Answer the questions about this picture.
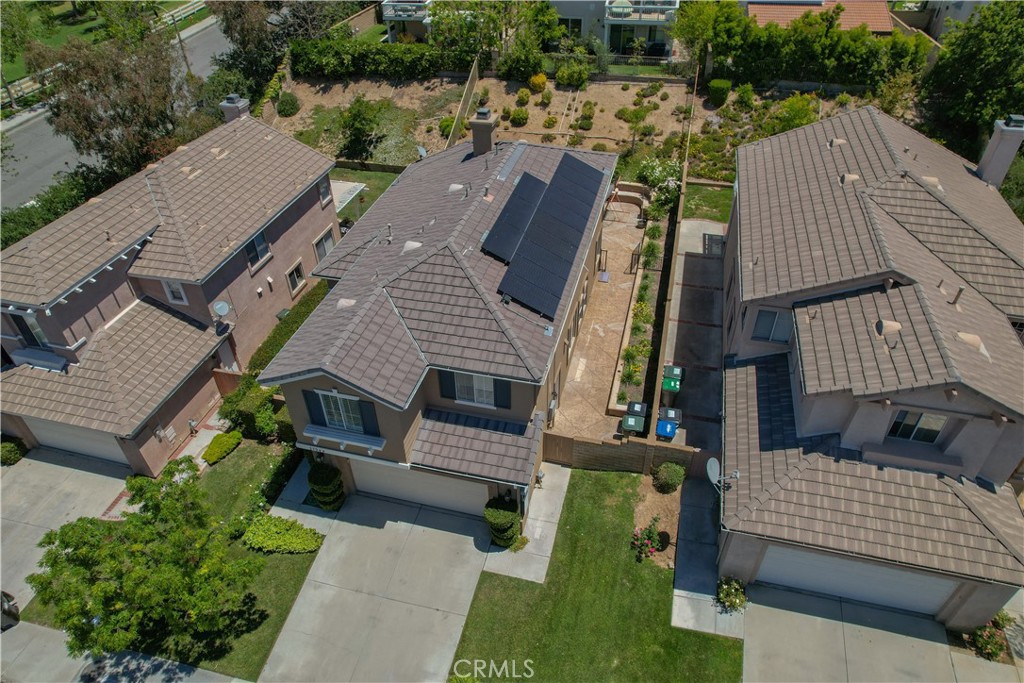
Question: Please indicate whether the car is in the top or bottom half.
bottom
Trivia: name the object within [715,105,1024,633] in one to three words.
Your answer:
house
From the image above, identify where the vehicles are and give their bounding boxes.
[0,596,23,640]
